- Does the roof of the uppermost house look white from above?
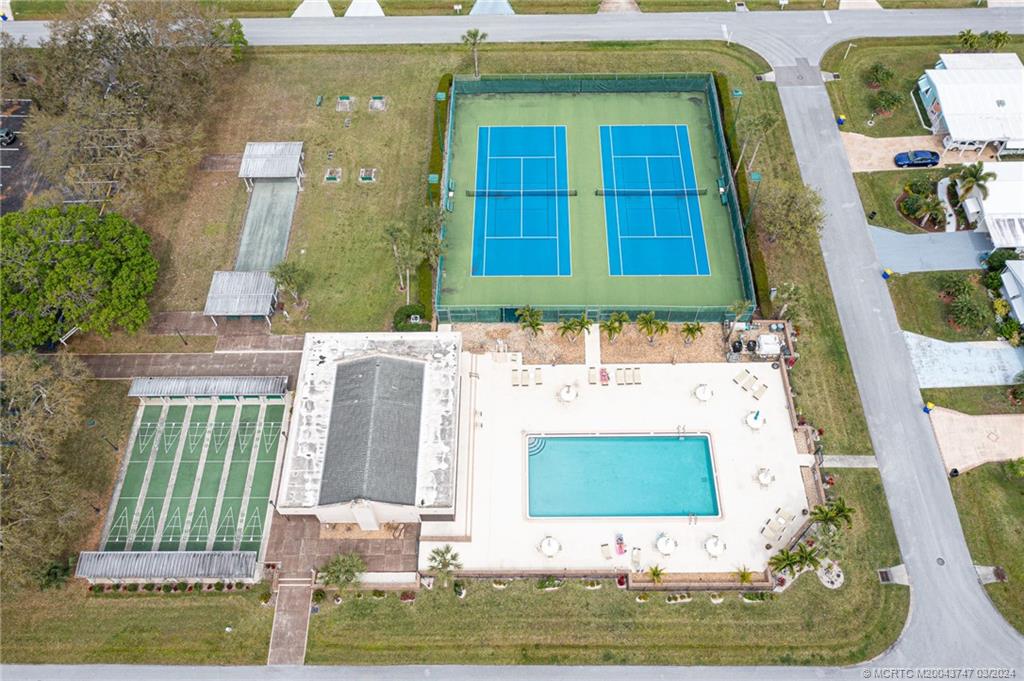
Yes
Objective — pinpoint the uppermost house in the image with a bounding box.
[916,53,1024,156]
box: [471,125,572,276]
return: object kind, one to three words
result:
tennis court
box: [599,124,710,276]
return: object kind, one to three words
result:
tennis court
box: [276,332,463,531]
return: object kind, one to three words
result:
building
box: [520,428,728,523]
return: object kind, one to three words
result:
swimming pool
